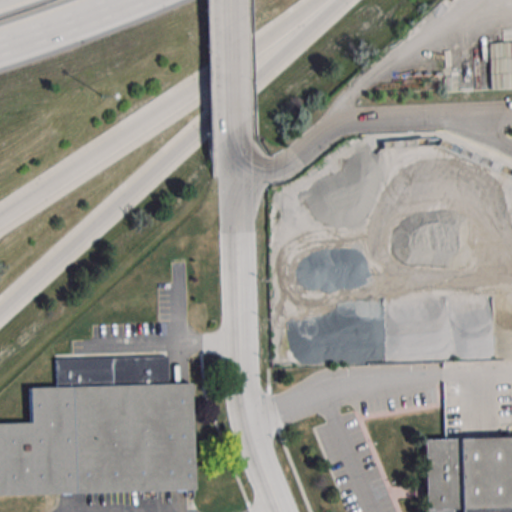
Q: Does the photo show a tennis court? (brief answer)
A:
No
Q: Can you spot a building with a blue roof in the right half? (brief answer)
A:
No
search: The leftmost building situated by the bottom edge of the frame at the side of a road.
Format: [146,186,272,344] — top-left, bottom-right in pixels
[0,384,197,497]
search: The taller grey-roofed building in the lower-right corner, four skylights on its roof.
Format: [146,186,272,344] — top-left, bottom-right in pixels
[460,436,512,512]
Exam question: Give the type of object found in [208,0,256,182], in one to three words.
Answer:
overpass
